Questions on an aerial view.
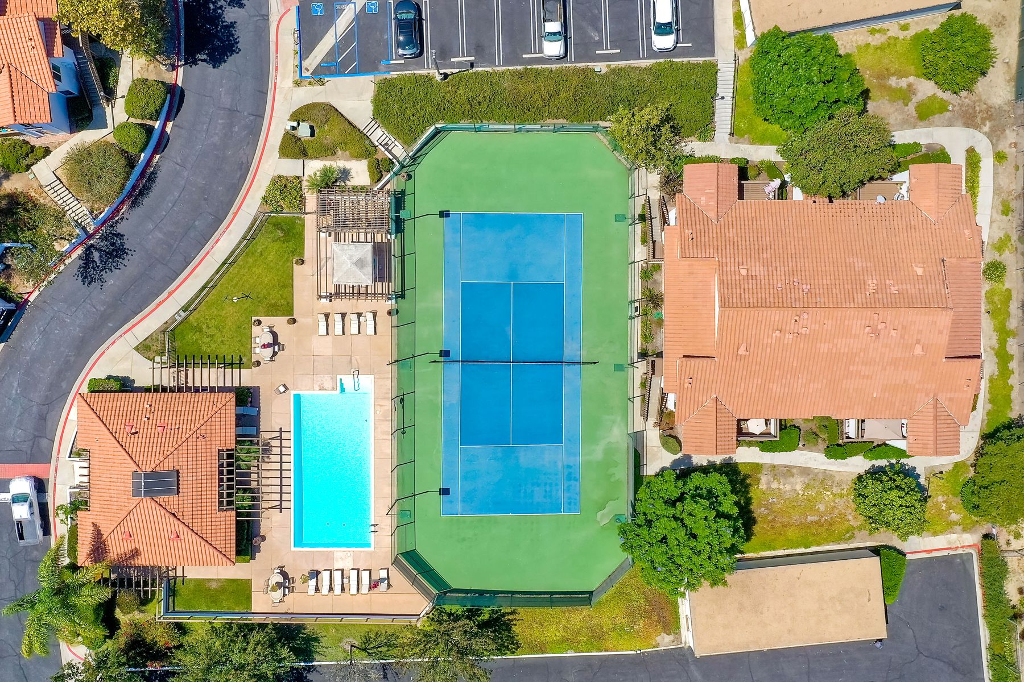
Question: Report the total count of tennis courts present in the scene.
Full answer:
The photo contains exactly 1 tennis court.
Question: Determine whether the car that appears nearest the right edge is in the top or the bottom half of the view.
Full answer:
The car that appears nearest the right edge is in the top half of the image.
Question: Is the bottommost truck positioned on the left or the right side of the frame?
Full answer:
It is on the left.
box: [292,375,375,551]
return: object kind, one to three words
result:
swimming pool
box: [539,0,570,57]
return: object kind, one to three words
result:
truck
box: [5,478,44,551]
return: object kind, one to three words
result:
truck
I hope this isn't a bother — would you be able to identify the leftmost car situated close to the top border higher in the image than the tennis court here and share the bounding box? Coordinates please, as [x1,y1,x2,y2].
[391,0,422,57]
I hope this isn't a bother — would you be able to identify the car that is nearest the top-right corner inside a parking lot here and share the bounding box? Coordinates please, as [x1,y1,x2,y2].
[652,0,683,51]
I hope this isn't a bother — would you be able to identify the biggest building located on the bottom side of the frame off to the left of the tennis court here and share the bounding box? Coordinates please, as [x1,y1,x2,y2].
[75,391,236,568]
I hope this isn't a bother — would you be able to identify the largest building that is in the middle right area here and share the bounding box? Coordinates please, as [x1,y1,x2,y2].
[658,160,984,458]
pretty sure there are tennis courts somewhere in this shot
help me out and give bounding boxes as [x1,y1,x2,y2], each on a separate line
[398,133,630,593]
